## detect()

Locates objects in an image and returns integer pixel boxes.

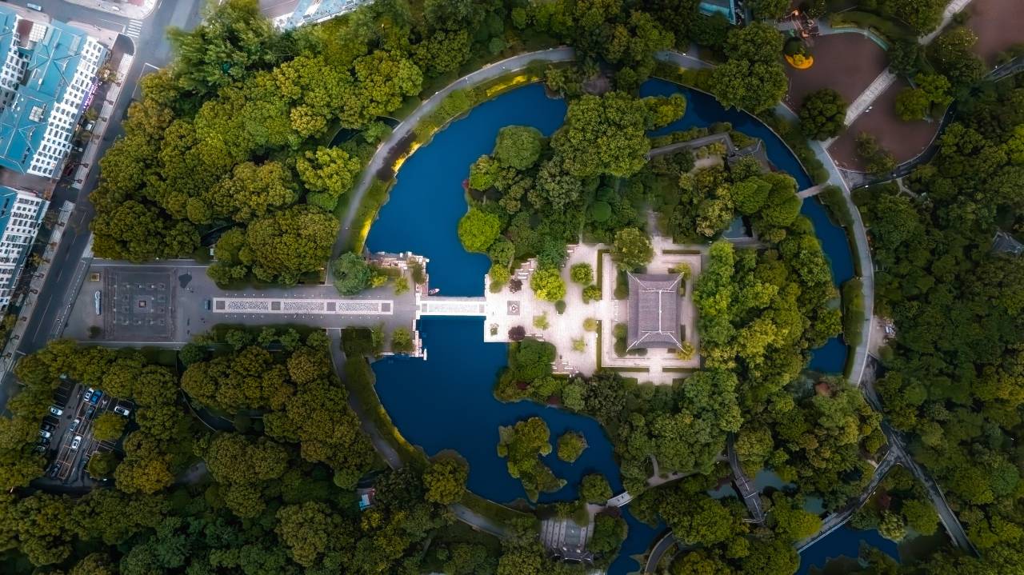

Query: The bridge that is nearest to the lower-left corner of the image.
[415,297,487,316]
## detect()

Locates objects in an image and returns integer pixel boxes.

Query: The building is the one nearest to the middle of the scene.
[623,271,685,353]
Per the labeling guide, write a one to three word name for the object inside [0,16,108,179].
building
